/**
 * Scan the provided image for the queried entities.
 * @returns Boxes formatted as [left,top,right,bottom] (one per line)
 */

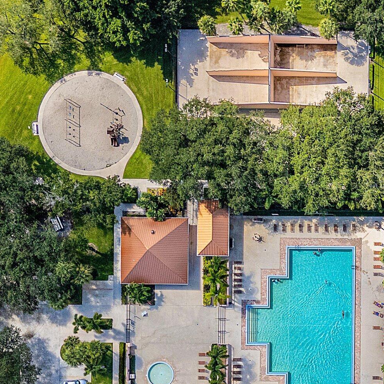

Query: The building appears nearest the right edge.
[197,199,230,257]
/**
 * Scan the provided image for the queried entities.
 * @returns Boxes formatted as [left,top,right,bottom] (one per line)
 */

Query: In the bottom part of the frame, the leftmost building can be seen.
[120,216,190,285]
